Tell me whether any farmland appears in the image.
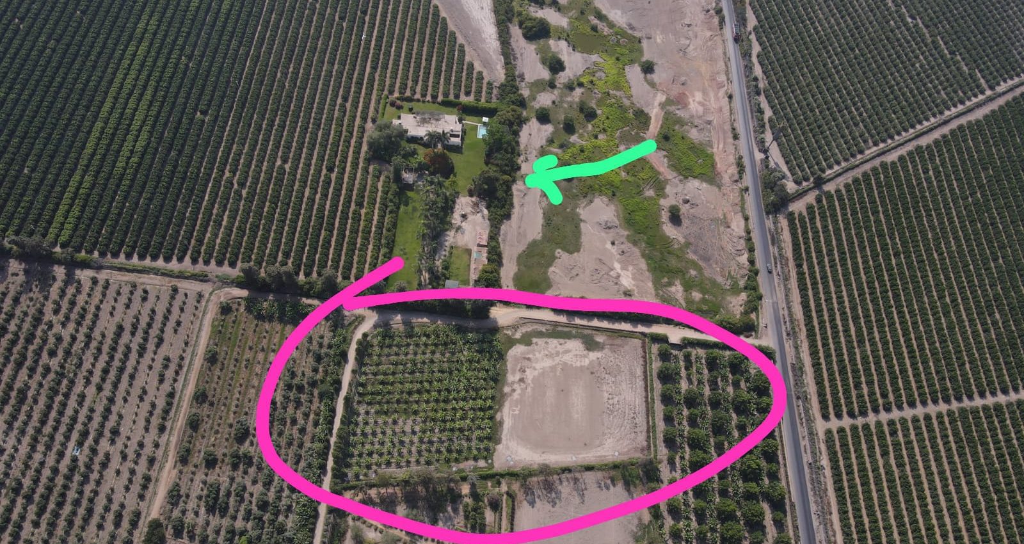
Yes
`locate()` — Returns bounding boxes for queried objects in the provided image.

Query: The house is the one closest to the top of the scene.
[393,114,461,147]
